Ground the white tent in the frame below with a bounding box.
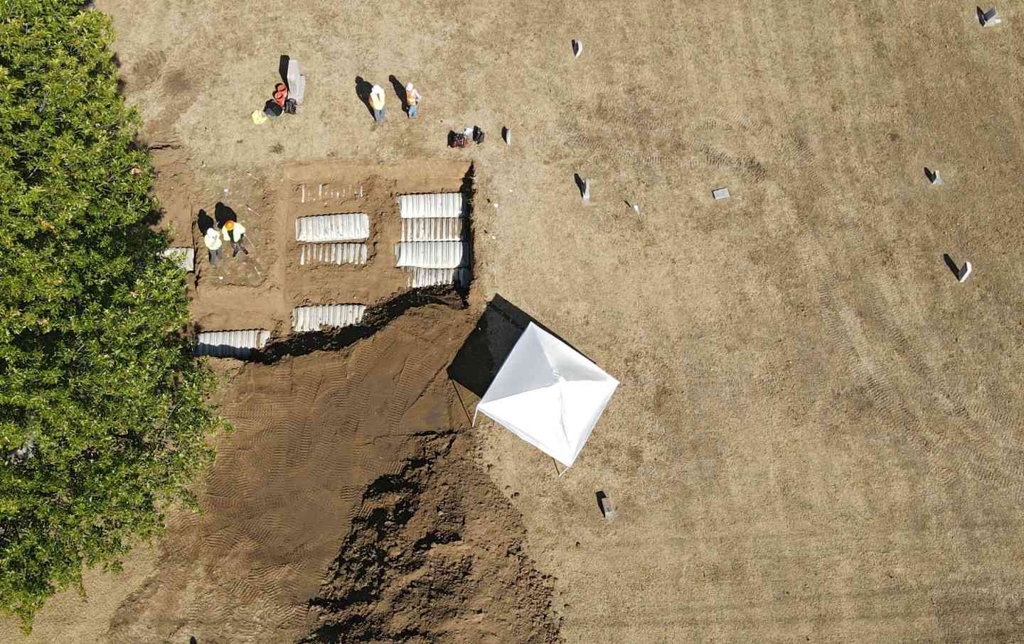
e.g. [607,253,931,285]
[472,325,621,479]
